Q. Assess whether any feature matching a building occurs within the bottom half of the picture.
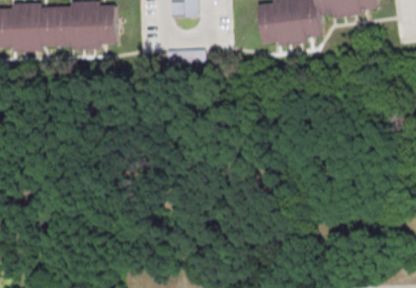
No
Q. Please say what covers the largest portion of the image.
trees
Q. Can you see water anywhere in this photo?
No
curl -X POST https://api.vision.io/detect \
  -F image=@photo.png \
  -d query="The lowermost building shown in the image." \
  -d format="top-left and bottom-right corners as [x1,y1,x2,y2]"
[168,48,206,62]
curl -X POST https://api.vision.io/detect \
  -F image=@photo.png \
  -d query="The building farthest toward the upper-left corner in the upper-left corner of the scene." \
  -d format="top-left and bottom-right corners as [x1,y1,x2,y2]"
[0,2,116,52]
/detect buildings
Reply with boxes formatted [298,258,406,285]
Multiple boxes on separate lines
[0,2,116,52]
[256,0,319,46]
[168,48,206,62]
[172,0,200,18]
